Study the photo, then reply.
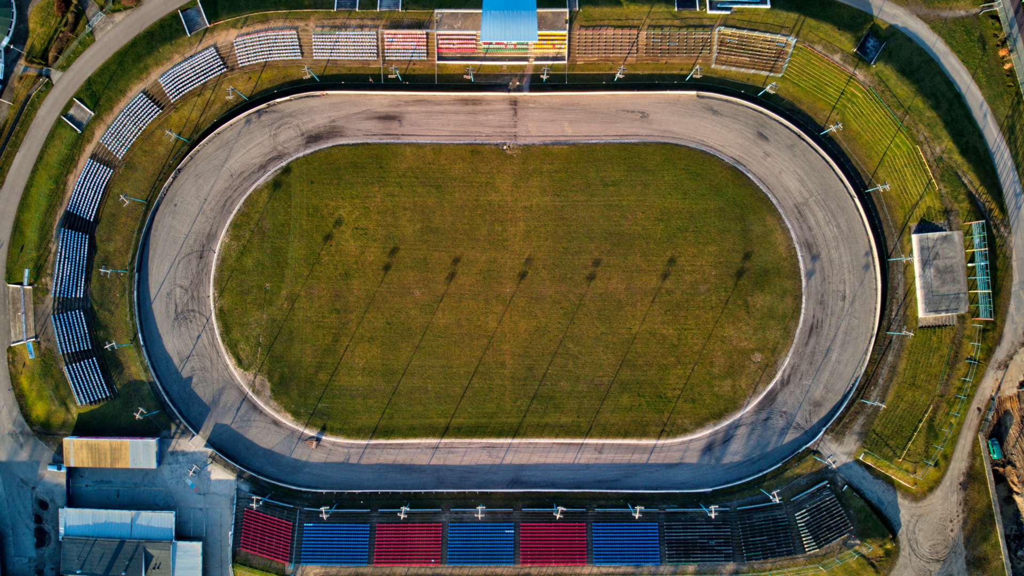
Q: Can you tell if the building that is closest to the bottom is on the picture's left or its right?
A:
left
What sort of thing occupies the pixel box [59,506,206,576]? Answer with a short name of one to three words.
building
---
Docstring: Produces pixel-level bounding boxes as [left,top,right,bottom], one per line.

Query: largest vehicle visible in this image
[988,437,1005,461]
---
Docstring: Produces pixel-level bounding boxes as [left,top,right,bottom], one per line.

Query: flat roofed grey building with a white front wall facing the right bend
[912,230,968,316]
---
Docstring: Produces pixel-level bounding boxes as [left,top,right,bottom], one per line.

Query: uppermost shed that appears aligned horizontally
[63,437,162,468]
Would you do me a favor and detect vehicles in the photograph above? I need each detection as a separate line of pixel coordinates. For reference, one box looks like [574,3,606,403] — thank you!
[302,440,319,450]
[988,437,1005,461]
[44,462,66,471]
